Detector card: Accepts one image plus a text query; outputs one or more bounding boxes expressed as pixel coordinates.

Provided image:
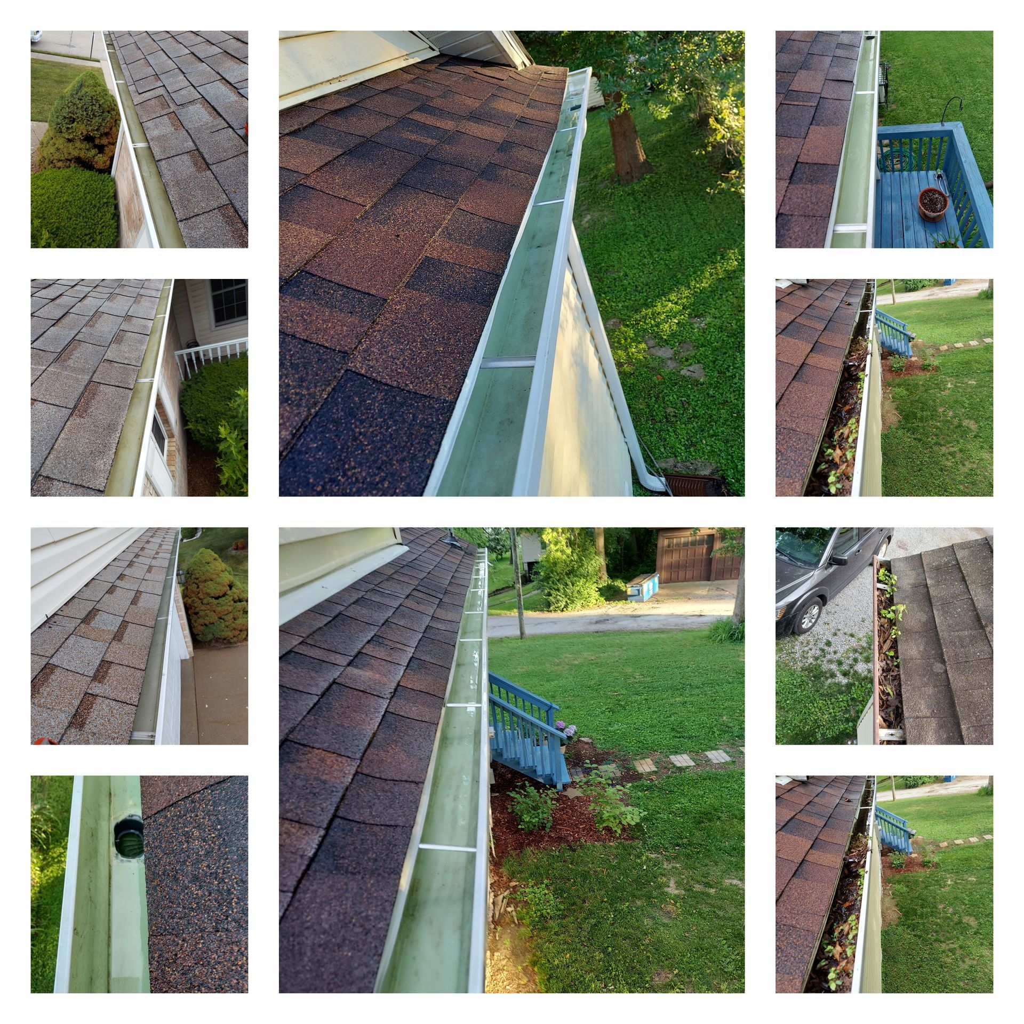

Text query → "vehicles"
[30,30,46,40]
[775,527,905,643]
